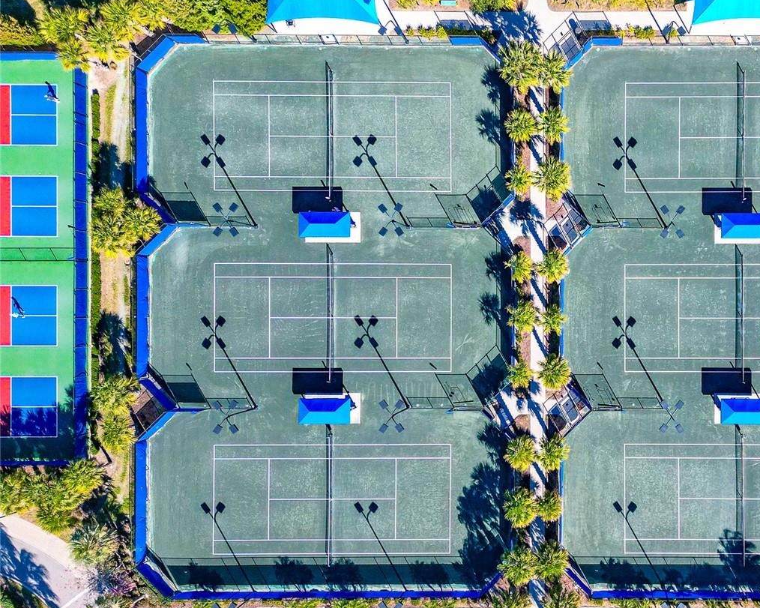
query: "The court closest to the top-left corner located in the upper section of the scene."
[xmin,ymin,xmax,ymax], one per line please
[0,84,57,145]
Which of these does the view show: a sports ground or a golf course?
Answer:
sports ground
